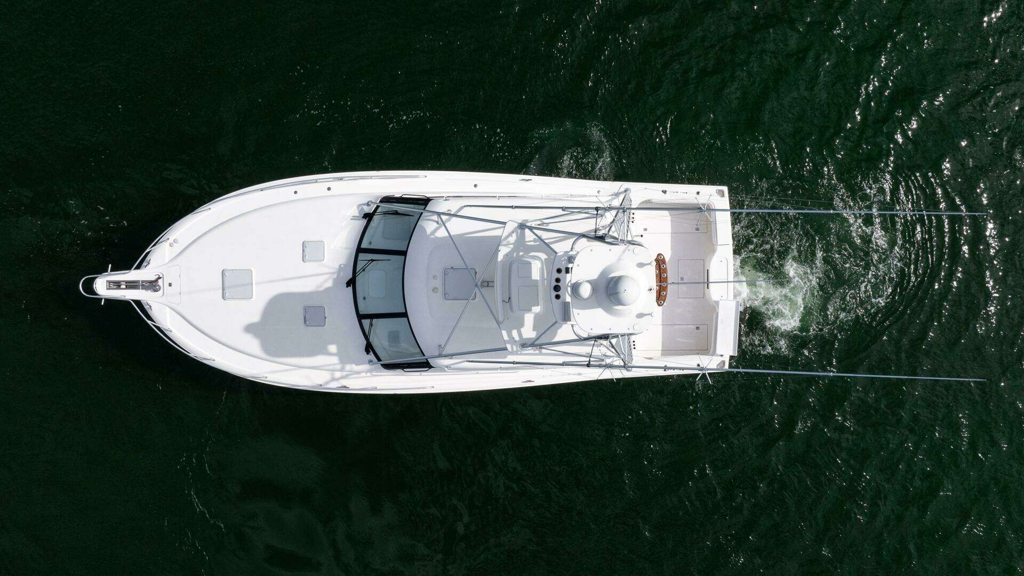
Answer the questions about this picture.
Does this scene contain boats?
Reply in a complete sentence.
Yes, you can see a boat in this photo.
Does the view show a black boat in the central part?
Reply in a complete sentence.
No, there's no black boat to be seen in the central part.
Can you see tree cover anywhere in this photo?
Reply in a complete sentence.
No, the picture contains no tree cover.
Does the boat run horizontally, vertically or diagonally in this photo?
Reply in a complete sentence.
I'd say the boat is aligned horizontally in the picture.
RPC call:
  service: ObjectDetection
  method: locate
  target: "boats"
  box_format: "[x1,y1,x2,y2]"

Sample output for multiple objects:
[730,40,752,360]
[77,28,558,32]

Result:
[79,170,986,394]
